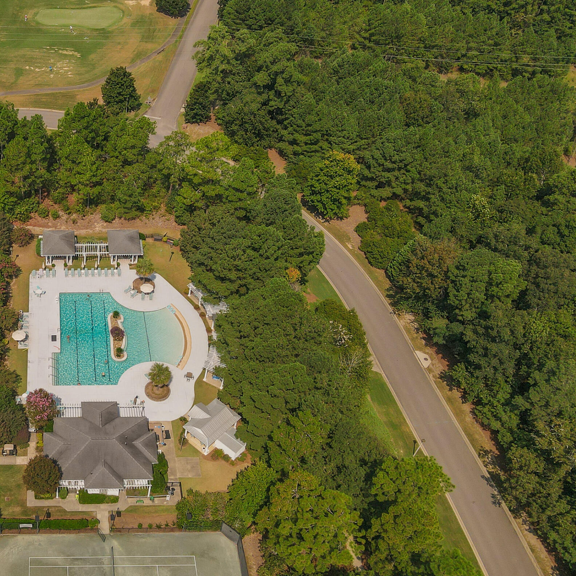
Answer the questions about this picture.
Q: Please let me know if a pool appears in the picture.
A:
Yes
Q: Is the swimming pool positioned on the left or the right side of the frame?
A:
left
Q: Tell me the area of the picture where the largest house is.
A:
bottom left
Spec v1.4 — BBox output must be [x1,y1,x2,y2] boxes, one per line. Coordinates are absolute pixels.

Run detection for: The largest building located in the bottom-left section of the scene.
[43,401,158,498]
